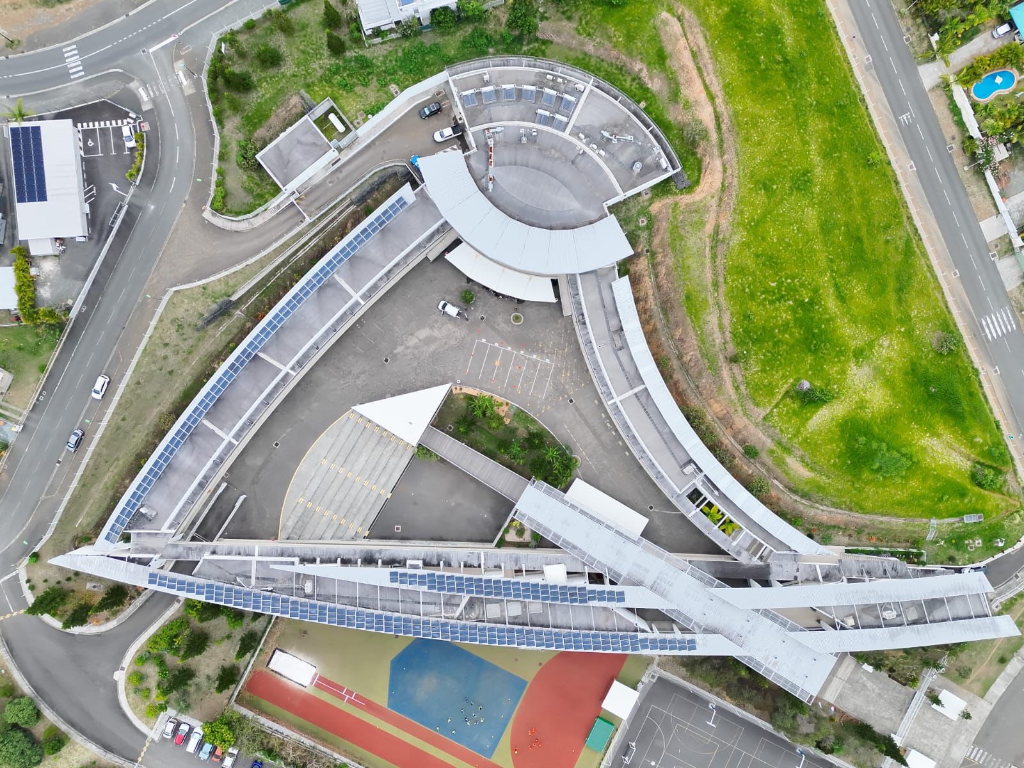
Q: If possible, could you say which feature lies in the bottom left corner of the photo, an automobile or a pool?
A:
automobile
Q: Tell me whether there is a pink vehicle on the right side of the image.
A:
No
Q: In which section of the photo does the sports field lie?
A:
bottom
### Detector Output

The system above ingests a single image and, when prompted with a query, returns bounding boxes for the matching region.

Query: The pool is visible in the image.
[969,67,1019,103]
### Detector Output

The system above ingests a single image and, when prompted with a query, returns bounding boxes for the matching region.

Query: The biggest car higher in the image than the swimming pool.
[990,18,1016,37]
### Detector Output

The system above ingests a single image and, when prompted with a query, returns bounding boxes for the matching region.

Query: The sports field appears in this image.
[234,616,651,768]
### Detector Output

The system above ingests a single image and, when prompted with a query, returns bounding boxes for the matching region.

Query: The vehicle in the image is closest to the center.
[438,300,466,322]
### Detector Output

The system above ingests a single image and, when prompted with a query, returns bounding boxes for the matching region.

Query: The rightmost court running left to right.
[582,669,861,768]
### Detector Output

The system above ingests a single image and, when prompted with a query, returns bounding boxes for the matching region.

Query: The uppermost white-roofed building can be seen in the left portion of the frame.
[359,0,458,50]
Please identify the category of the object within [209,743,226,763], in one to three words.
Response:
car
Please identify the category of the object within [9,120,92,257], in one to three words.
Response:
building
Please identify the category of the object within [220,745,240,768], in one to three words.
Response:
vehicle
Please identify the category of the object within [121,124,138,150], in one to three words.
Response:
car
